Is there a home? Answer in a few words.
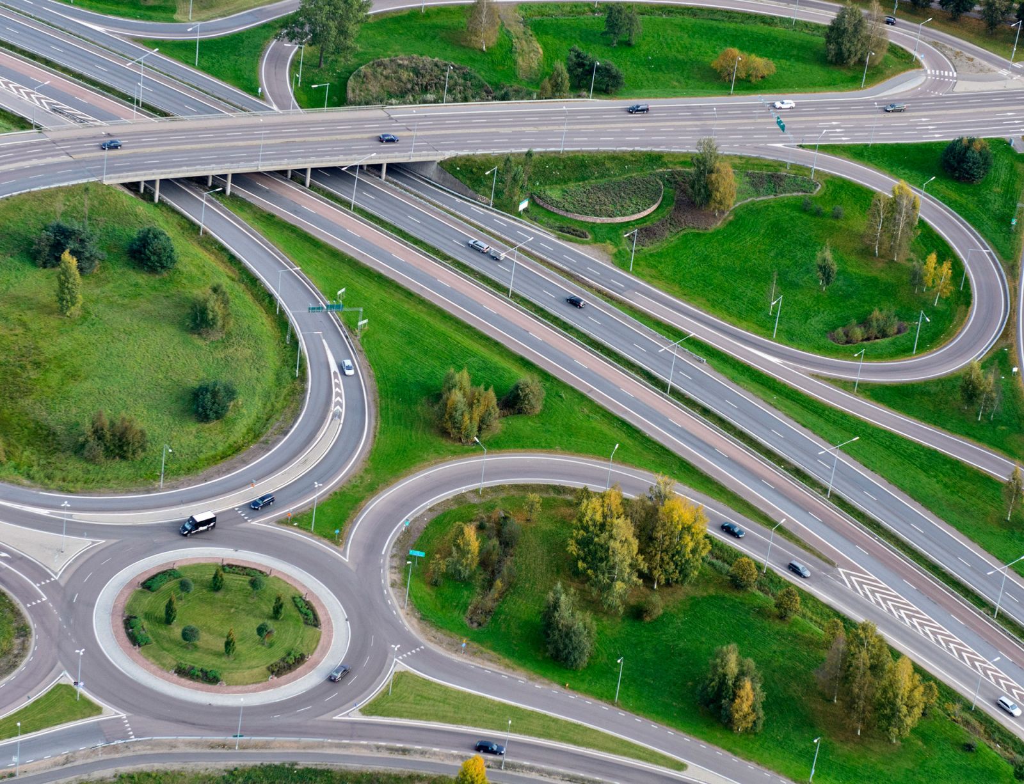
No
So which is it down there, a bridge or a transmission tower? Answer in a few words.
bridge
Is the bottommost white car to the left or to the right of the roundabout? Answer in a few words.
right of it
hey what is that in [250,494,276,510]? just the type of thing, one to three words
car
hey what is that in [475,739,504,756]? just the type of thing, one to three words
car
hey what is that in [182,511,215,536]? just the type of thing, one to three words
vehicle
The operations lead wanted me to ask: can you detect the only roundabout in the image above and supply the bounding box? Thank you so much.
[0,507,769,784]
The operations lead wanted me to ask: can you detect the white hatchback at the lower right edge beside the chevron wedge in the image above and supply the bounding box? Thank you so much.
[995,696,1023,716]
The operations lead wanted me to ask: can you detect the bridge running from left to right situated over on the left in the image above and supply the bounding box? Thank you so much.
[41,103,493,213]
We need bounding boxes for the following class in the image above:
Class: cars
[327,665,352,682]
[100,140,123,151]
[467,239,491,252]
[475,739,504,756]
[565,296,587,309]
[786,559,812,578]
[250,494,276,510]
[720,522,746,539]
[627,103,650,114]
[378,133,399,143]
[995,696,1023,716]
[342,359,354,376]
[773,99,796,109]
[884,102,907,112]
